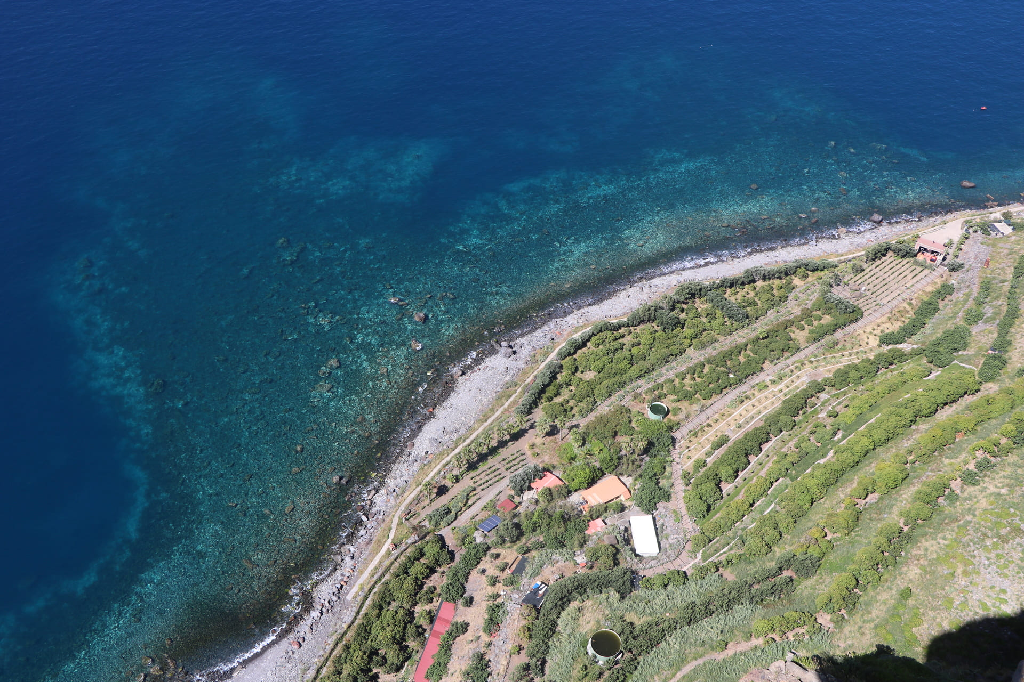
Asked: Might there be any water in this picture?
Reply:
Yes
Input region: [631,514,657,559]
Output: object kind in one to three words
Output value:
building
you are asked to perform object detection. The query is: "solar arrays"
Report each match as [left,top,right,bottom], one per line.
[478,513,501,533]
